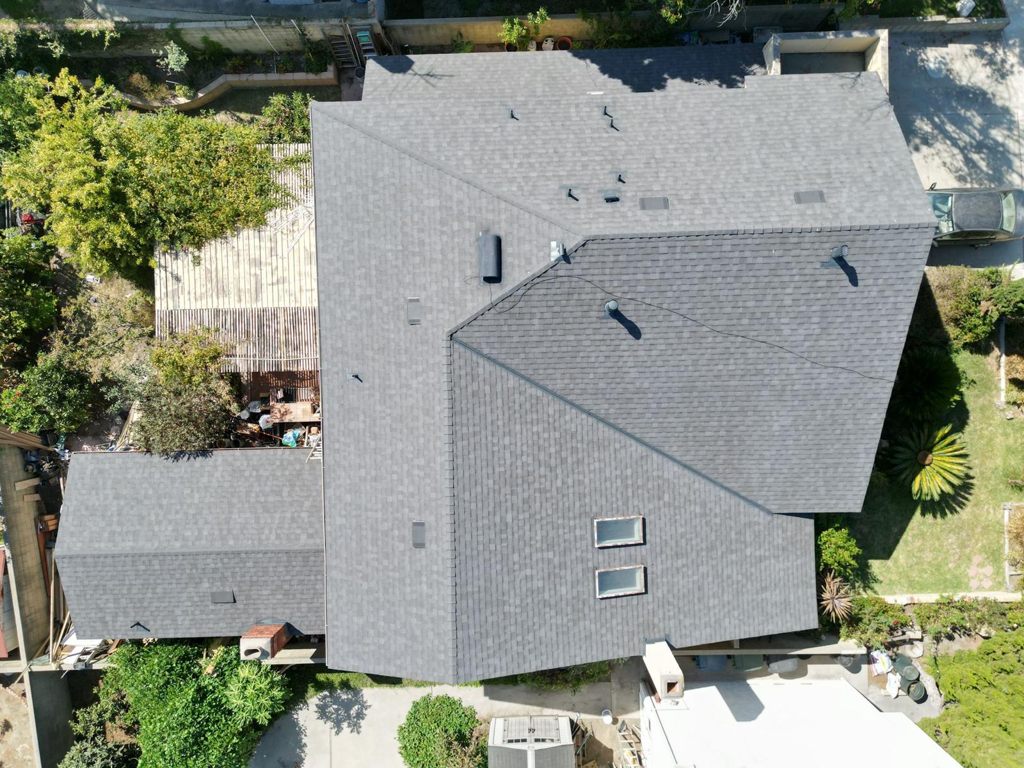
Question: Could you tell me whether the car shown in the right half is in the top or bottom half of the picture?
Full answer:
The car shown in the right half is in the top half of the image.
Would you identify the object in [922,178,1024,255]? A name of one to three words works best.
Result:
car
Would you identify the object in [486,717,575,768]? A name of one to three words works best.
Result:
shed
